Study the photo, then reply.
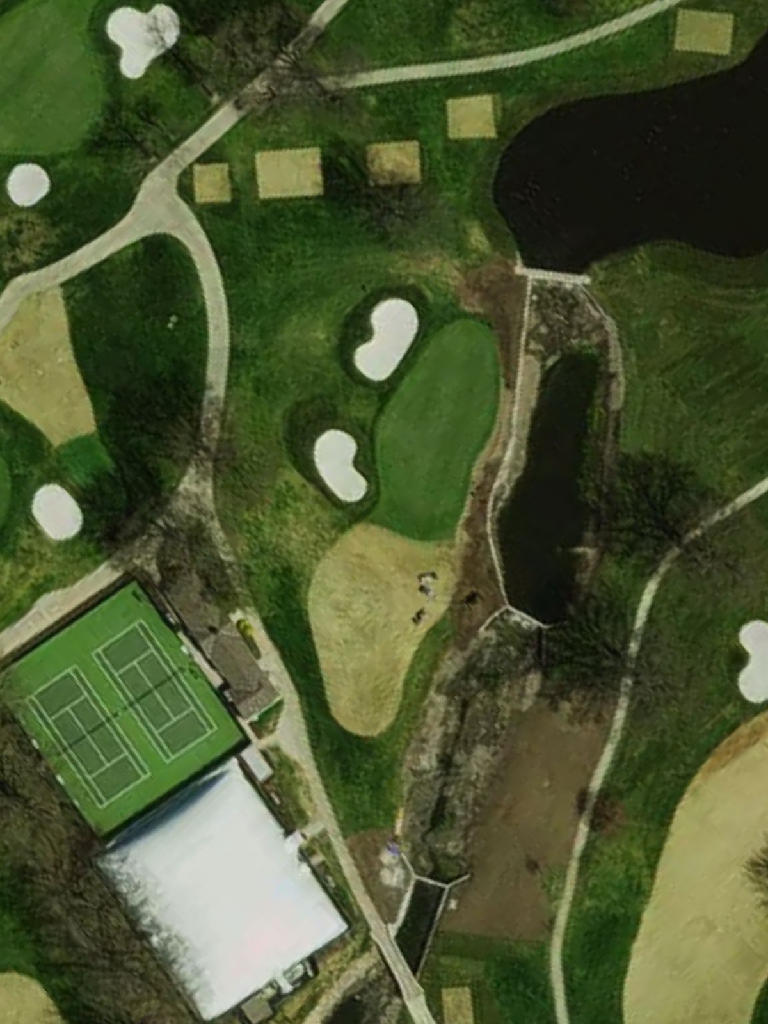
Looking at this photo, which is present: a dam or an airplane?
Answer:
dam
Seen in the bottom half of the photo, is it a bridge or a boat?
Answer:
bridge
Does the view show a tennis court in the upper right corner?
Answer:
No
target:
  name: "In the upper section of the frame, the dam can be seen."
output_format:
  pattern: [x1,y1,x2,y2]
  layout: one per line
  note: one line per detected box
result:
[514,252,595,285]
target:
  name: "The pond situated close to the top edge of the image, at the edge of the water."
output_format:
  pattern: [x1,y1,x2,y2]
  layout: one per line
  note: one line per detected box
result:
[492,35,768,276]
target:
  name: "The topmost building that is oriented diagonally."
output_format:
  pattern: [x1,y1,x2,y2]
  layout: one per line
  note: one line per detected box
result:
[173,584,282,720]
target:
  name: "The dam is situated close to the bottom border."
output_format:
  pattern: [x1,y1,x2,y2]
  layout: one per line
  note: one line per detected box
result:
[390,853,470,975]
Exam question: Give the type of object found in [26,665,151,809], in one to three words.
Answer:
tennis court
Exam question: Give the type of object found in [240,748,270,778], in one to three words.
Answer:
shed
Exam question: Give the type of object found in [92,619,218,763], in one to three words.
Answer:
tennis court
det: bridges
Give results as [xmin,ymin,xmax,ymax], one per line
[371,926,424,1001]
